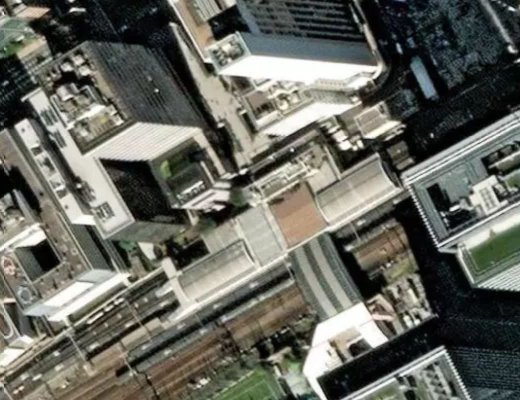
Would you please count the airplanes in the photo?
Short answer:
none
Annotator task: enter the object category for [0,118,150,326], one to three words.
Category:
building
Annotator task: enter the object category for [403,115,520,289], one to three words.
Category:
building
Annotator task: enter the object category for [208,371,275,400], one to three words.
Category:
sports field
